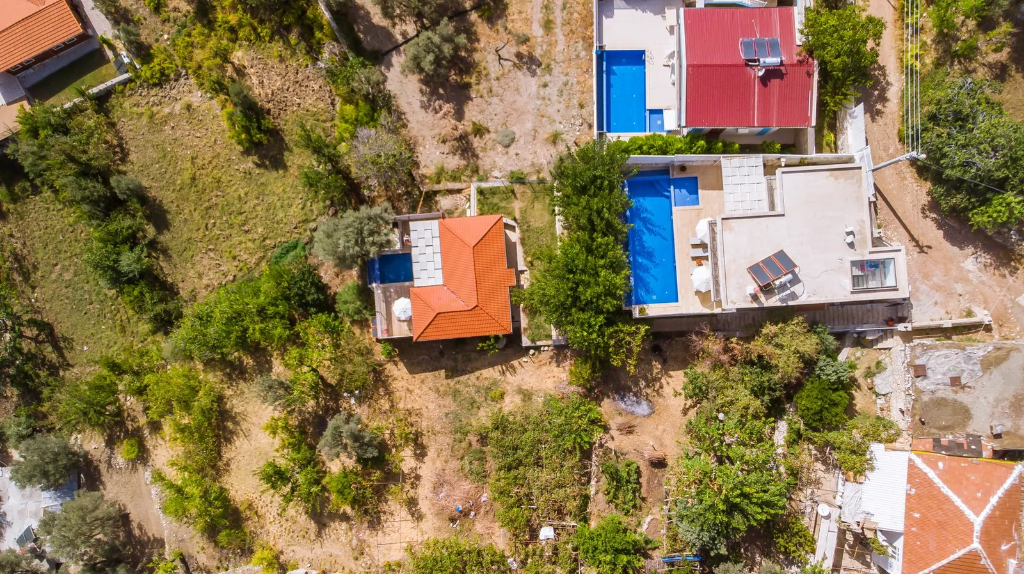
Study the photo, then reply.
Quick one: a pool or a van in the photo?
pool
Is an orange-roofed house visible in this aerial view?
Yes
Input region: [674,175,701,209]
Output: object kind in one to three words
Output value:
swimming pool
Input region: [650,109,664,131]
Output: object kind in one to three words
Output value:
swimming pool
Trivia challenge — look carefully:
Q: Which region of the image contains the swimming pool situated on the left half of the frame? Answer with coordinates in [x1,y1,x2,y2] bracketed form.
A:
[376,251,414,288]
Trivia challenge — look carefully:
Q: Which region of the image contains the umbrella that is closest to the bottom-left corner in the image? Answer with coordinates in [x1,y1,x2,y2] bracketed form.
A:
[391,298,412,321]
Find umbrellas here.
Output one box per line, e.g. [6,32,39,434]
[690,266,711,293]
[690,217,715,244]
[391,298,412,321]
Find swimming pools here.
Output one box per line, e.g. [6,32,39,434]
[650,109,664,131]
[376,251,414,288]
[674,175,701,209]
[602,46,650,135]
[626,166,681,308]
